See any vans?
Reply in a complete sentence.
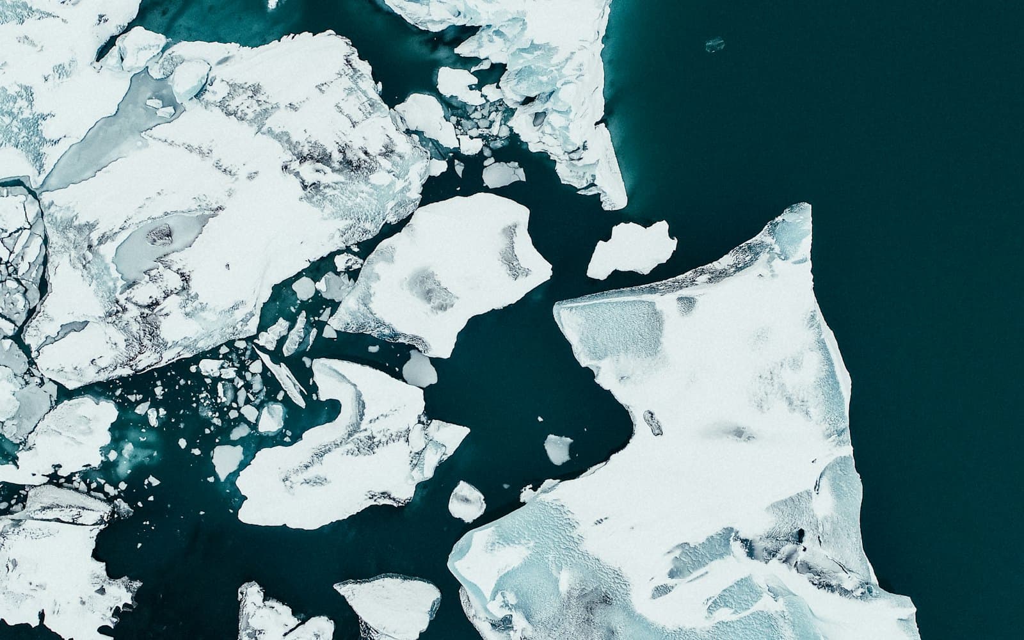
No, there is no van in the image.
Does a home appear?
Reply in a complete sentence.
No, this view has no home in it.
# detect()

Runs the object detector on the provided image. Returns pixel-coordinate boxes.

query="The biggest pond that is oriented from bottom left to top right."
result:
[110,212,217,291]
